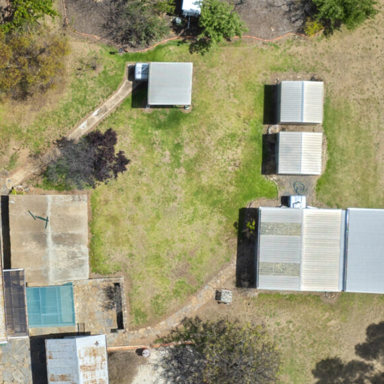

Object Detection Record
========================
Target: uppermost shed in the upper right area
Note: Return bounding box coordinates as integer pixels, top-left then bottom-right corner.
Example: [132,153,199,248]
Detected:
[276,80,324,124]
